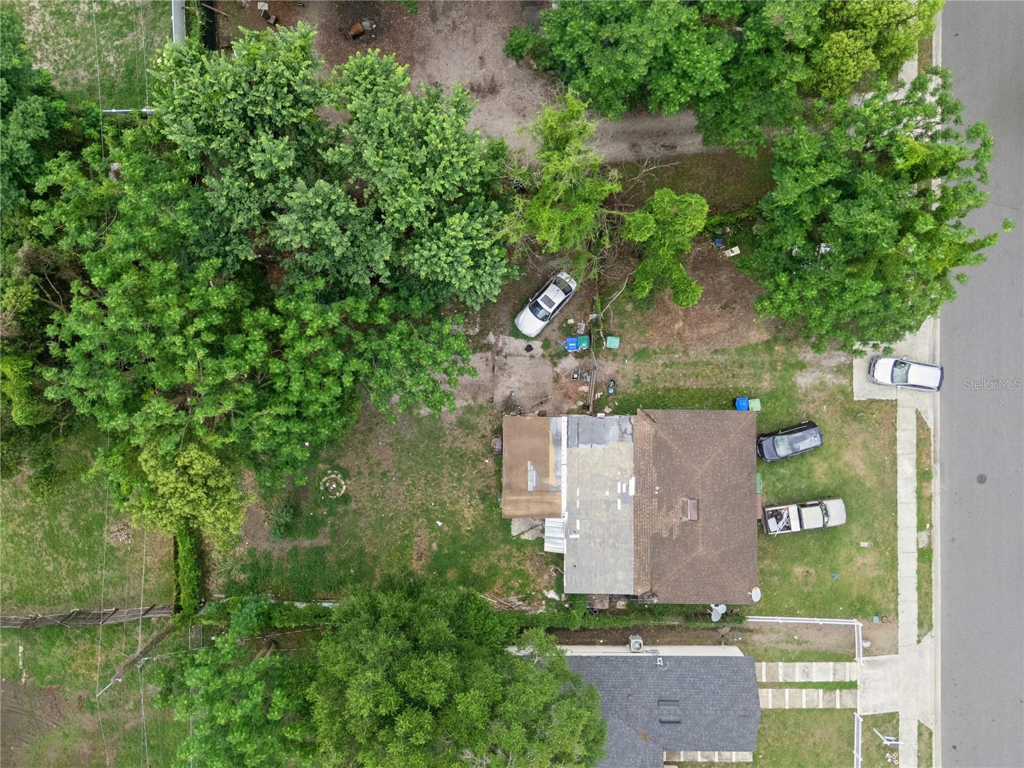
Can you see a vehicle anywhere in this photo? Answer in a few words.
Yes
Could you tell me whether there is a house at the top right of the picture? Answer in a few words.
No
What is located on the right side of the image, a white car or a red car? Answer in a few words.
white car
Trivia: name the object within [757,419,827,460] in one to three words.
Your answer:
car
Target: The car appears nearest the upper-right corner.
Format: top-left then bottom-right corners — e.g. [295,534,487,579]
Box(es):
[862,355,950,392]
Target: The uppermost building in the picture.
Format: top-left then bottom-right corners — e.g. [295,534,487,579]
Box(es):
[503,409,758,608]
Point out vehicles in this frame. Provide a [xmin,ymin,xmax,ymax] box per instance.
[515,270,579,338]
[862,355,950,392]
[757,419,827,460]
[757,496,847,537]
